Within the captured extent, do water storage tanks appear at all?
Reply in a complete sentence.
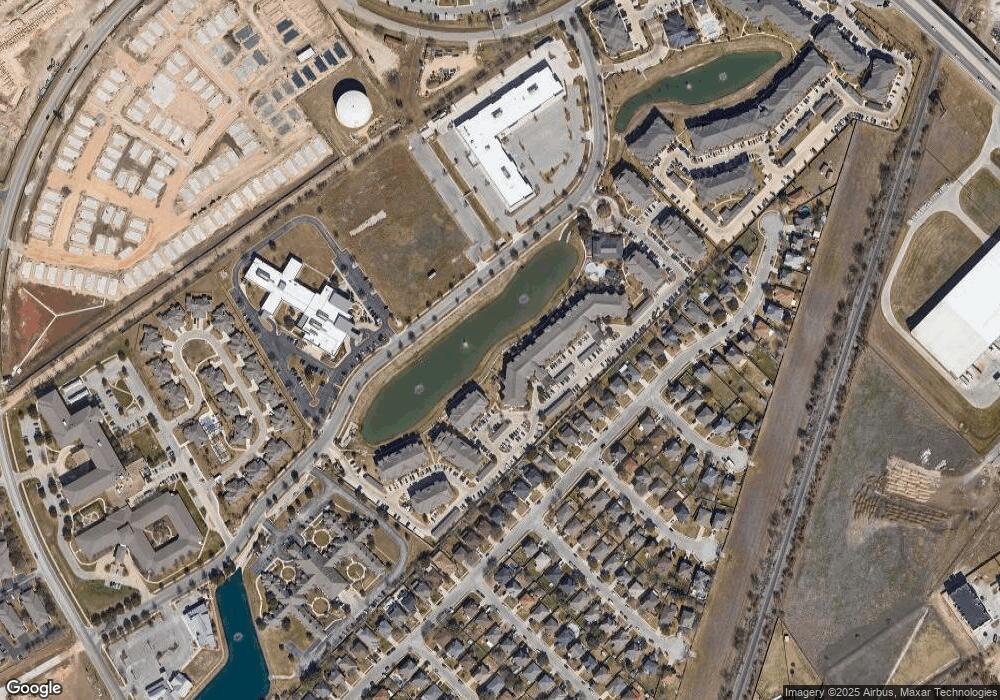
Yes, looking at the shot, I can spot a water storage tank.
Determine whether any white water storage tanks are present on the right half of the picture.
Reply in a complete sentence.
No, looking on the right half of the picture, there is no white water storage tank.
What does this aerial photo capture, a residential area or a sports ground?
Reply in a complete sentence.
What you see here is a residential area.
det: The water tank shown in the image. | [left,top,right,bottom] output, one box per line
[335,90,372,127]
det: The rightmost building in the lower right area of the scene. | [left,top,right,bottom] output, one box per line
[949,583,992,630]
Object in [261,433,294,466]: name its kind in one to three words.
house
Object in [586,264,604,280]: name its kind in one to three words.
swimming pool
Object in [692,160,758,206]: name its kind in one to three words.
building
